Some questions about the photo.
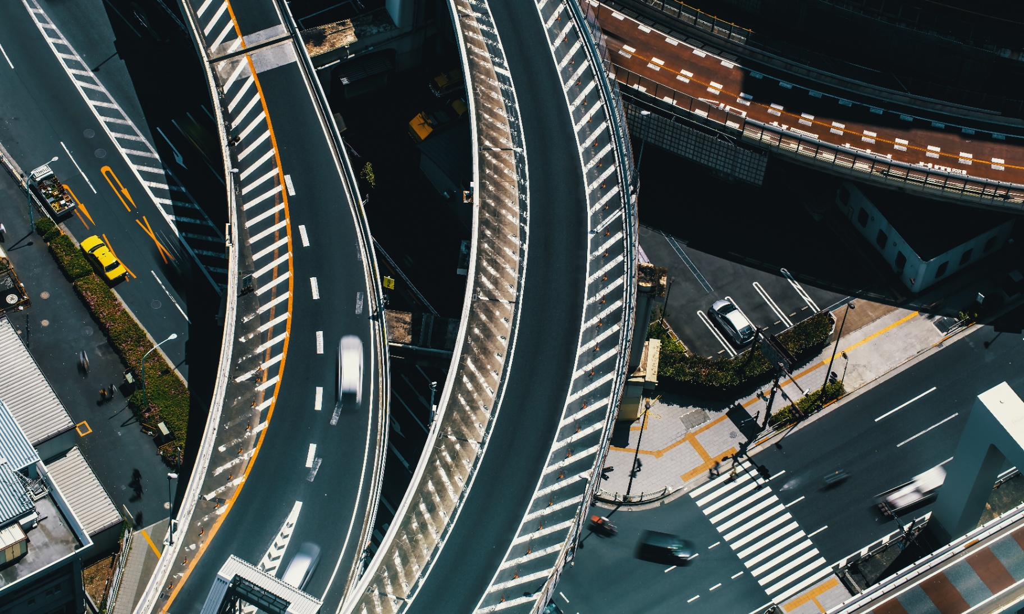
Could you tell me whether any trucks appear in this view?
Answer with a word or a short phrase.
Yes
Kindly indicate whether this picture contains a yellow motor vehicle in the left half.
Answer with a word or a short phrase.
Yes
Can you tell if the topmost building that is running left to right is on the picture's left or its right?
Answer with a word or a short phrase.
right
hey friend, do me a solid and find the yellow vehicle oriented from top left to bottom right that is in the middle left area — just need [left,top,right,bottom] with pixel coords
[82,235,126,282]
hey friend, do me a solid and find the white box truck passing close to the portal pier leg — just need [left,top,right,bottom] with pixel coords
[882,457,951,516]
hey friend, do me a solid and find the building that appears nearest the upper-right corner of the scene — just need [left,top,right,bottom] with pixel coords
[836,180,1023,289]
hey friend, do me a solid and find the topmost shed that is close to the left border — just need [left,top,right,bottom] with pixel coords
[0,314,77,462]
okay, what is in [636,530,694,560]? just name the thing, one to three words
car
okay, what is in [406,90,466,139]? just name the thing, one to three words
truck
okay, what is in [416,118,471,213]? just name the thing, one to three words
shed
